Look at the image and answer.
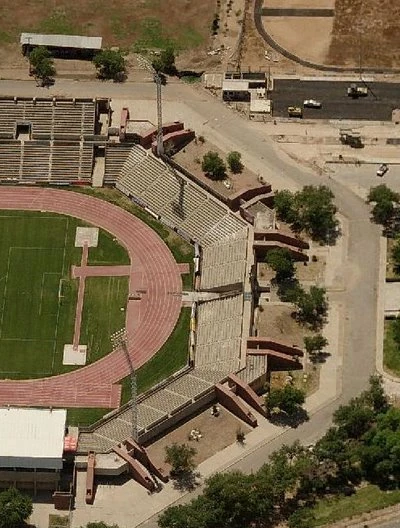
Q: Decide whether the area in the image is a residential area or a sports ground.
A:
sports ground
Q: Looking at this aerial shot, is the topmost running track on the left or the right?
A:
right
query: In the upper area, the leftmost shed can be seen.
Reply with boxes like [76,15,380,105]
[20,33,101,59]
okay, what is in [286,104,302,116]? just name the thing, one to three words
vehicle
